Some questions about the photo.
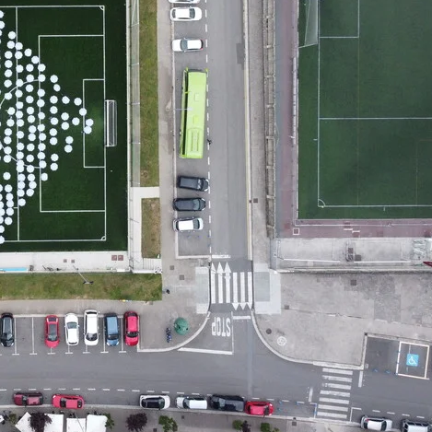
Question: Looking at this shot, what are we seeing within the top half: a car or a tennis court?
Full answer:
The feature located within the top half is a car.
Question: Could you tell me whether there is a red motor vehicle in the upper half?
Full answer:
No, there is no red motor vehicle in the upper half.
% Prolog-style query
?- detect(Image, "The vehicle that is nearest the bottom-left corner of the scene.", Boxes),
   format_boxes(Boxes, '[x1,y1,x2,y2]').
[13,391,43,408]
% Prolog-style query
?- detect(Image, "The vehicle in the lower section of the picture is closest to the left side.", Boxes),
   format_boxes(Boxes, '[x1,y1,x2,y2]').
[0,312,15,348]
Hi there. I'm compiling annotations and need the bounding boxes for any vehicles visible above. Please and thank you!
[358,415,393,432]
[169,6,202,22]
[172,217,203,233]
[65,312,79,346]
[176,176,209,192]
[13,391,43,408]
[399,419,432,432]
[0,312,15,348]
[175,394,207,411]
[83,309,99,346]
[170,37,203,53]
[123,311,139,346]
[244,399,274,416]
[179,67,209,158]
[209,394,244,411]
[138,394,169,411]
[172,197,205,213]
[51,393,84,410]
[104,312,120,346]
[44,313,60,347]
